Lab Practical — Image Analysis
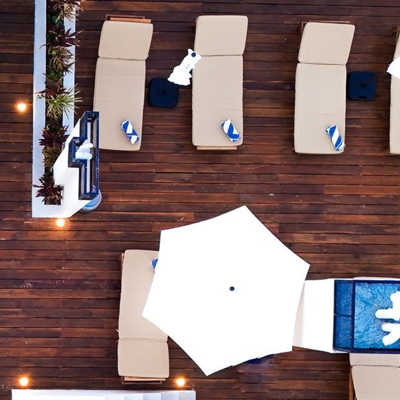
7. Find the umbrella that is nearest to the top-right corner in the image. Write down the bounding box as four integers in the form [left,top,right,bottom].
[347,55,400,100]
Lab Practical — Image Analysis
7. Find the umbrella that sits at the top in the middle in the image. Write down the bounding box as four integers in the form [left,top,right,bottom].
[149,52,197,107]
